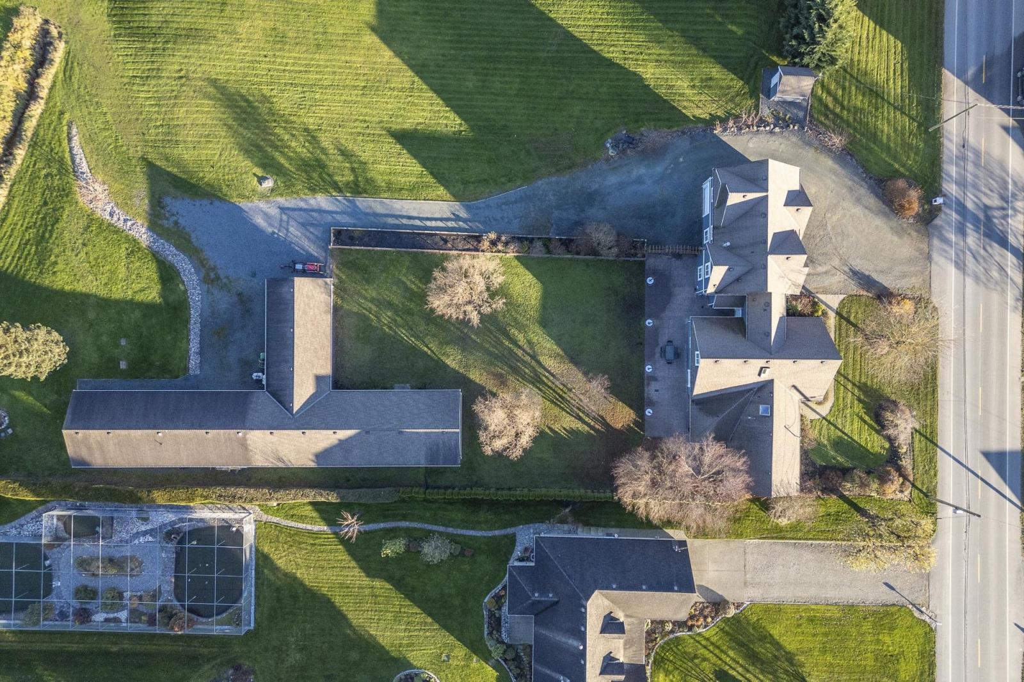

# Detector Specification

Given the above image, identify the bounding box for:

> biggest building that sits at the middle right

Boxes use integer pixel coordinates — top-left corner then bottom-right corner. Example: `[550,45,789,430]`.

[683,158,842,498]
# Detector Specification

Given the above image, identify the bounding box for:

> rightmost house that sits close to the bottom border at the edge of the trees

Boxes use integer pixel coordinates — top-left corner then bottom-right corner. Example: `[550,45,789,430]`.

[505,532,696,682]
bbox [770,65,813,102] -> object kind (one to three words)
shed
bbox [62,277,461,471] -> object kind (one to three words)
barn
